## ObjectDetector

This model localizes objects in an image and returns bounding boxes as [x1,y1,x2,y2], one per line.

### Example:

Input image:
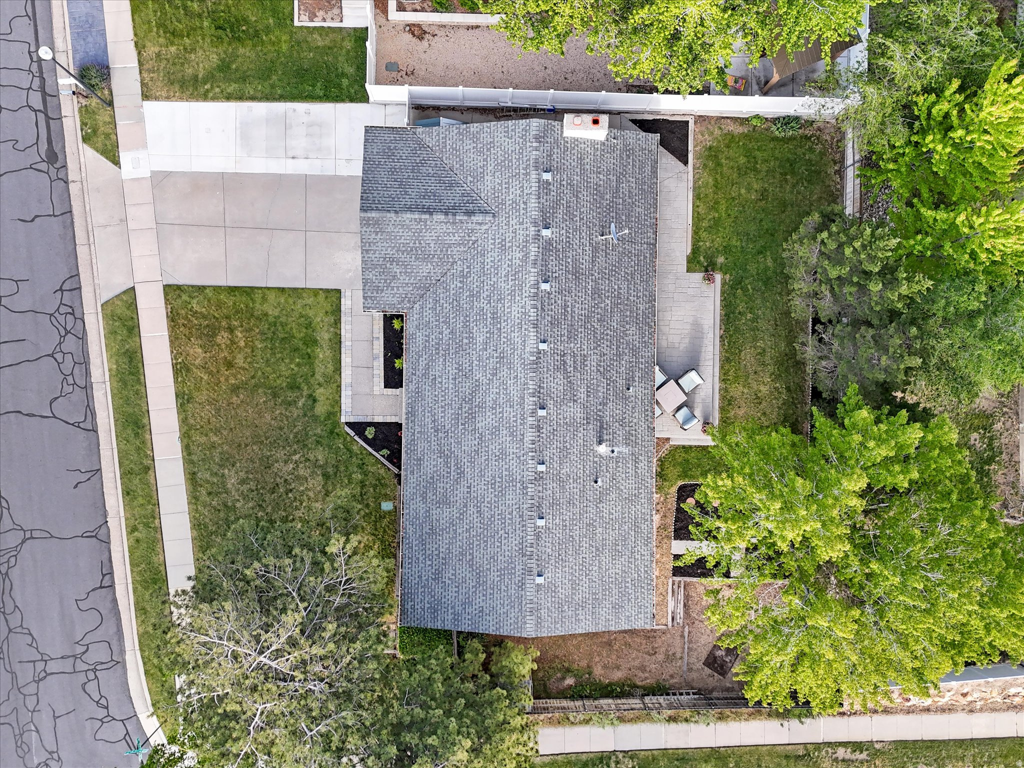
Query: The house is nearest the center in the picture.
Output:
[358,114,660,639]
